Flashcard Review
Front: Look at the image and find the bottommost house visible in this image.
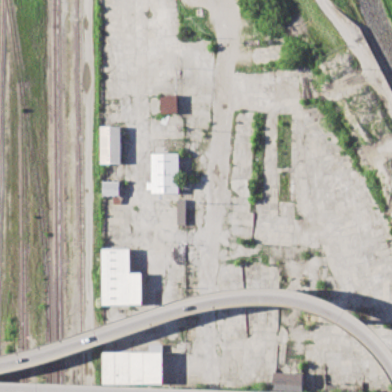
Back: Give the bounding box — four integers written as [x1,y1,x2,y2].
[273,372,302,392]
